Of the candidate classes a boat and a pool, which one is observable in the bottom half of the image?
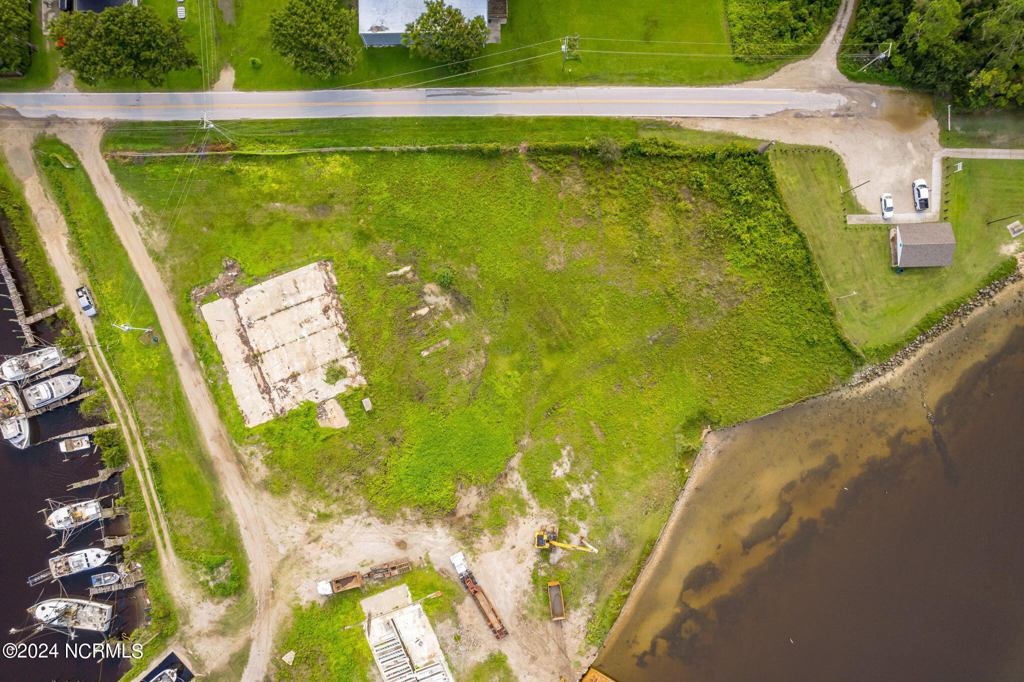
boat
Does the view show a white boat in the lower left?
Yes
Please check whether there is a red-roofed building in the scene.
No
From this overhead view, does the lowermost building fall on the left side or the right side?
right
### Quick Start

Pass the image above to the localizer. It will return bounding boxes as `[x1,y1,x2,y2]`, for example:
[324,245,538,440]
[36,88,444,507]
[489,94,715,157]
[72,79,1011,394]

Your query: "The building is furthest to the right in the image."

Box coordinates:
[887,223,956,268]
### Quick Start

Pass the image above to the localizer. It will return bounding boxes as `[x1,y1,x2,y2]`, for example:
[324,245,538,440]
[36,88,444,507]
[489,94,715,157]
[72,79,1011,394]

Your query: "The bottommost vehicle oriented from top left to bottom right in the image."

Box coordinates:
[465,577,515,653]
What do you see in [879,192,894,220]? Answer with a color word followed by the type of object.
white car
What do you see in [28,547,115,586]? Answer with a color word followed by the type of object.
white boat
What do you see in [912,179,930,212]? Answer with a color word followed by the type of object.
white vehicle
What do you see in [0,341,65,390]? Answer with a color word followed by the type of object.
white boat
